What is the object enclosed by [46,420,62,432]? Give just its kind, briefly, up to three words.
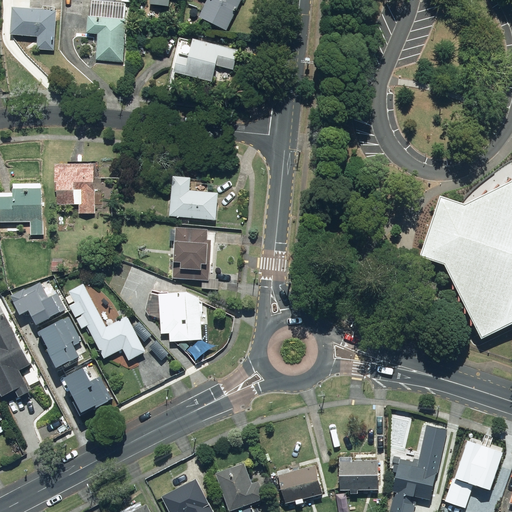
vehicle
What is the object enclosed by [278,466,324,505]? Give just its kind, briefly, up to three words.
house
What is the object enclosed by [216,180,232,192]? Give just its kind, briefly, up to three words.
vehicle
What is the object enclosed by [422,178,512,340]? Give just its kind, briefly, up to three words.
building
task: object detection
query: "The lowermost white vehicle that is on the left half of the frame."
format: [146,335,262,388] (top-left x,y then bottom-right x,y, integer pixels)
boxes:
[46,494,62,507]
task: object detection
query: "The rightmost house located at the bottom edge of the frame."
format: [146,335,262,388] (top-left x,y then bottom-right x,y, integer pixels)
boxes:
[445,442,504,510]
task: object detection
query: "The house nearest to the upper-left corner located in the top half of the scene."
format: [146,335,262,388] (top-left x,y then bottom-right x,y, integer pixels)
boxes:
[10,6,55,50]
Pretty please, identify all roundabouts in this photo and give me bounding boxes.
[242,302,338,394]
